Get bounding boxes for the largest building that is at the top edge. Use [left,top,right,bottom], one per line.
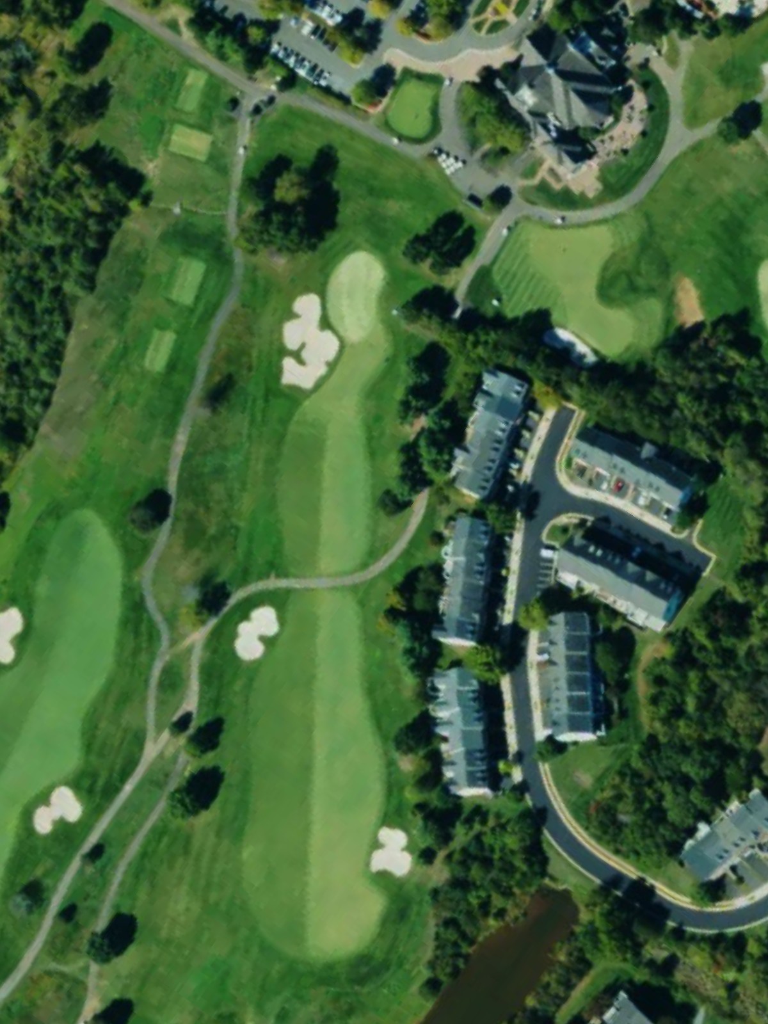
[512,31,627,181]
